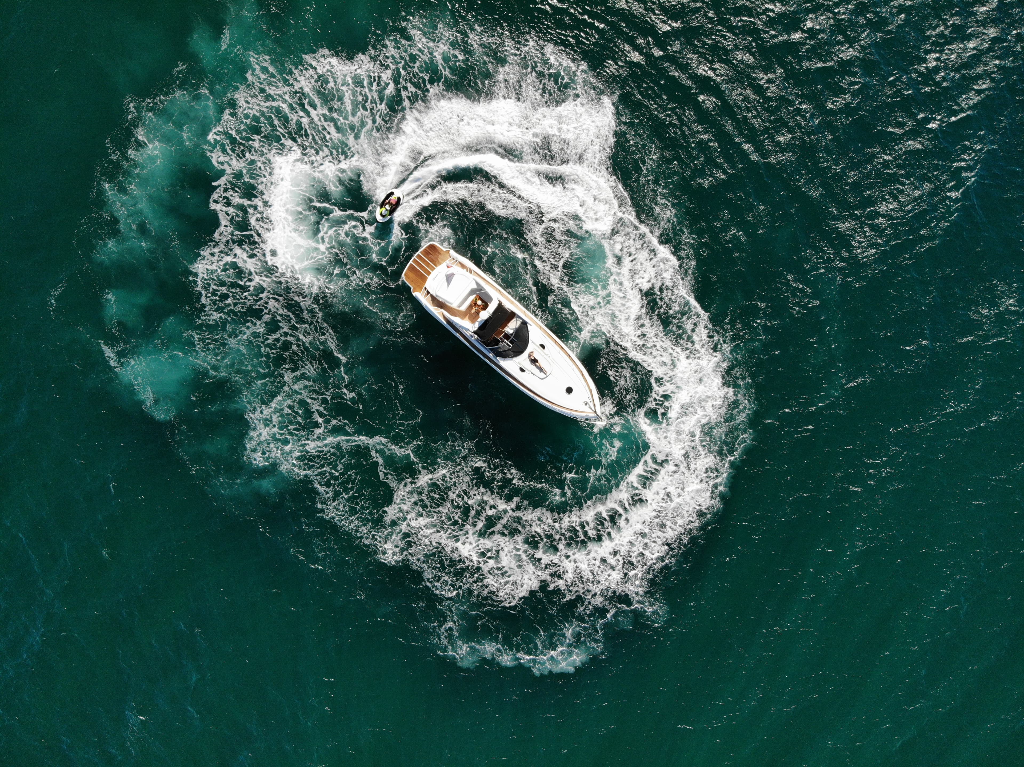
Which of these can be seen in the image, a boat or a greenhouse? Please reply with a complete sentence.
The image shows a boat.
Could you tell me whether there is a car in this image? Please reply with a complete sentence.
No, I can see no car in this picture.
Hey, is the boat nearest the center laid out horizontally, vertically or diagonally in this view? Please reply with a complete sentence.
What the image shows is the boat nearest the center lying diagonally.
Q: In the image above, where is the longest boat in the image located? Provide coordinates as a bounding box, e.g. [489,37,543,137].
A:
[402,242,609,423]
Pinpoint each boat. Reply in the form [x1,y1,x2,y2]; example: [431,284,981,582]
[402,242,609,423]
[376,188,401,222]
